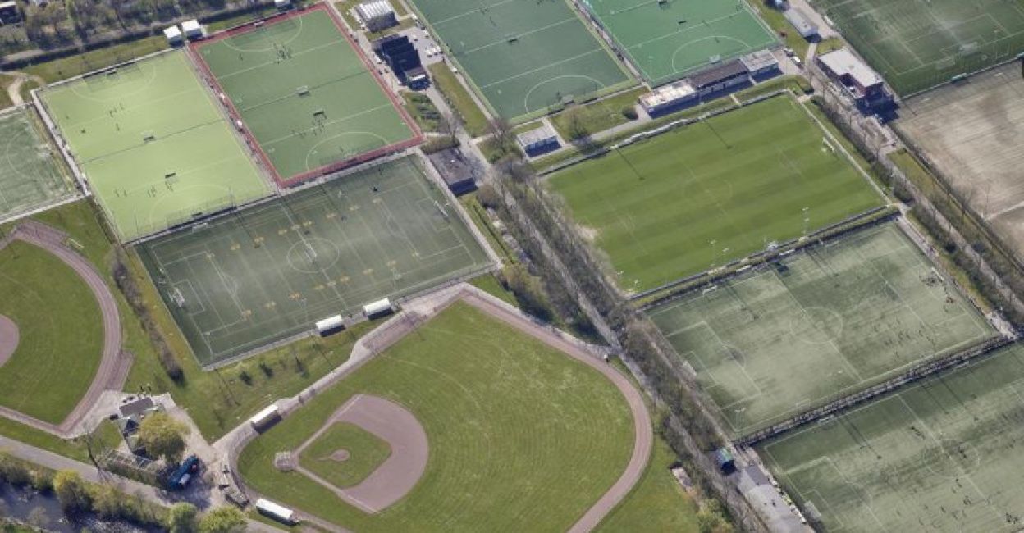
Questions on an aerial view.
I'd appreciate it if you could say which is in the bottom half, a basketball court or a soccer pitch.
soccer pitch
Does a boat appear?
No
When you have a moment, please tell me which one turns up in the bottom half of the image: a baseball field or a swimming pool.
baseball field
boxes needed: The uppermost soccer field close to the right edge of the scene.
[807,0,1024,98]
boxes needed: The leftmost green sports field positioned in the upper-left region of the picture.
[39,48,274,243]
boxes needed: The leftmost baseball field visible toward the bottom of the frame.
[0,219,134,438]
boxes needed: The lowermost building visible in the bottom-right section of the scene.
[737,464,808,533]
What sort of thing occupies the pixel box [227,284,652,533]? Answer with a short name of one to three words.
baseball field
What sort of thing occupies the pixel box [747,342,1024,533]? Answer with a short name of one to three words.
soccer field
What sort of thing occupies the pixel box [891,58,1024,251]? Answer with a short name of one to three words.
sports field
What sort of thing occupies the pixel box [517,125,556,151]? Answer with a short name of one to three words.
building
